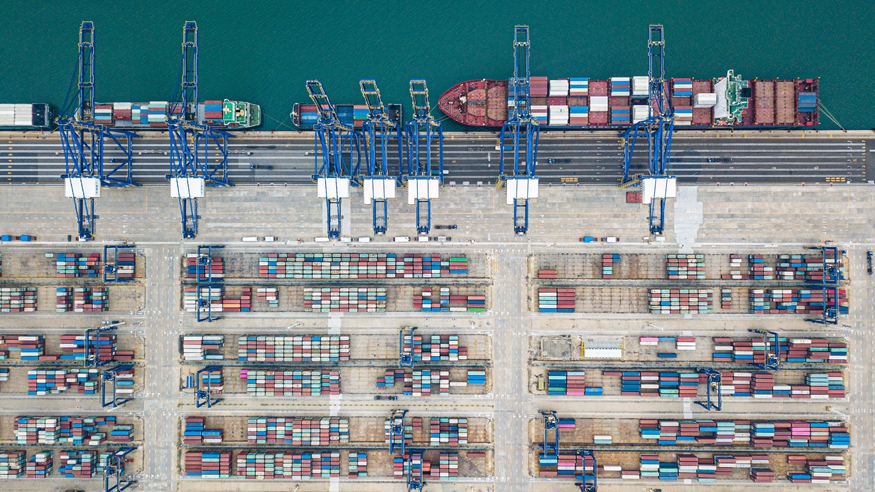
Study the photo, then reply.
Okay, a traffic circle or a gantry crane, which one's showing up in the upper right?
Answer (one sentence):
You can see a gantry crane in the upper right.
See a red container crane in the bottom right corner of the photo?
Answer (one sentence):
No, looking in the bottom right corner of the photo, there is no red container crane.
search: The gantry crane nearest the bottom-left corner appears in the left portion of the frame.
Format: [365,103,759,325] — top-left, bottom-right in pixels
[104,444,139,492]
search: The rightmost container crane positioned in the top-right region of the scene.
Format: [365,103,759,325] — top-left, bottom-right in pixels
[612,22,684,241]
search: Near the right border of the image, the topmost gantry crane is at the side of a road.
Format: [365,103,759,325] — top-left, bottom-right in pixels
[802,248,840,284]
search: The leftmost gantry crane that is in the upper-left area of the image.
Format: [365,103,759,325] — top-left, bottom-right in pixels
[51,22,144,241]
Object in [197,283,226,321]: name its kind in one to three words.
container crane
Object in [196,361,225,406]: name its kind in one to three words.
container crane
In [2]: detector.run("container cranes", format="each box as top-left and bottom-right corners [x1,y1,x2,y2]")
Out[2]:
[101,366,135,407]
[51,22,144,241]
[573,443,597,492]
[406,441,426,490]
[104,444,139,492]
[357,74,404,241]
[612,22,684,241]
[161,22,238,241]
[691,366,722,411]
[102,247,137,282]
[402,74,449,241]
[398,324,418,366]
[389,402,408,453]
[85,326,120,366]
[197,247,226,282]
[802,284,839,322]
[196,361,225,406]
[303,74,363,241]
[537,403,560,457]
[802,248,840,284]
[745,328,780,369]
[490,22,545,241]
[197,283,226,321]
